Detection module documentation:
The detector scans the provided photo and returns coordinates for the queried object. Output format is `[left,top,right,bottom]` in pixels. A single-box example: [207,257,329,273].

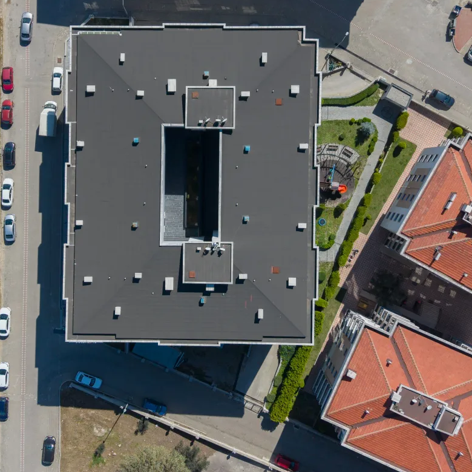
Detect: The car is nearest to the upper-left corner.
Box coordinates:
[19,12,34,42]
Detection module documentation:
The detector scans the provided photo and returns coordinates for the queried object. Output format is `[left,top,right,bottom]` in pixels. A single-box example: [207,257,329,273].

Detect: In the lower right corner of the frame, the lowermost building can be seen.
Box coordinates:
[309,304,472,472]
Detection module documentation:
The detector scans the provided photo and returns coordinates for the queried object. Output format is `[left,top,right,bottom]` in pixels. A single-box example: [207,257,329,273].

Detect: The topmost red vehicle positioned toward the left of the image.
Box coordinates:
[1,67,14,91]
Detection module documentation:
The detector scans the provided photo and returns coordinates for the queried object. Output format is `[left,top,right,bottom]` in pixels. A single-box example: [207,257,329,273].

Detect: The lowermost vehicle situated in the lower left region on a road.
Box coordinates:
[41,436,56,465]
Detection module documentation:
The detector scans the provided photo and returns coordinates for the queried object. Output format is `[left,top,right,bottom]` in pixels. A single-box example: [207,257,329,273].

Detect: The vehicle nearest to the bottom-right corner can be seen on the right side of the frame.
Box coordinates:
[272,454,297,471]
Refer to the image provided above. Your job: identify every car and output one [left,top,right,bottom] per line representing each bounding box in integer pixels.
[1,100,14,124]
[19,12,34,42]
[3,214,17,242]
[3,142,16,167]
[143,399,167,414]
[424,87,454,109]
[1,67,14,91]
[41,436,56,465]
[272,454,297,471]
[0,396,10,421]
[0,362,10,389]
[75,371,102,388]
[51,67,64,93]
[2,179,15,206]
[0,307,11,337]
